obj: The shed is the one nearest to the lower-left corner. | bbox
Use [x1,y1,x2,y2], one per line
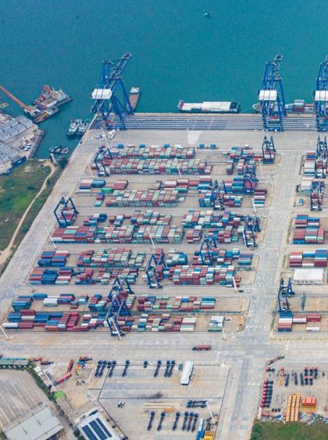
[3,402,66,440]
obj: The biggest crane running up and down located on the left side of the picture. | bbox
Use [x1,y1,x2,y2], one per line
[96,56,132,131]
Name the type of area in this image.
port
